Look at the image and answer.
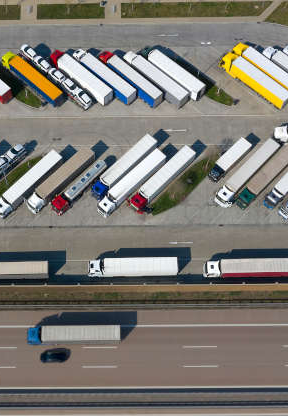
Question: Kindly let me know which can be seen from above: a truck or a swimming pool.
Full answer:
Of the two, only a truck appears.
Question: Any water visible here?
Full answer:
No, the picture contains no water.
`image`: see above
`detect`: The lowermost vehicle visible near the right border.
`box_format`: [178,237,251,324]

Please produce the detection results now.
[200,259,288,278]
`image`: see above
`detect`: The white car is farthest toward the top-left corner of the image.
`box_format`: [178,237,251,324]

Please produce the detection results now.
[19,45,37,61]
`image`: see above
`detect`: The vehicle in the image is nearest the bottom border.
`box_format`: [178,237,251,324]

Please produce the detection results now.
[42,350,68,363]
